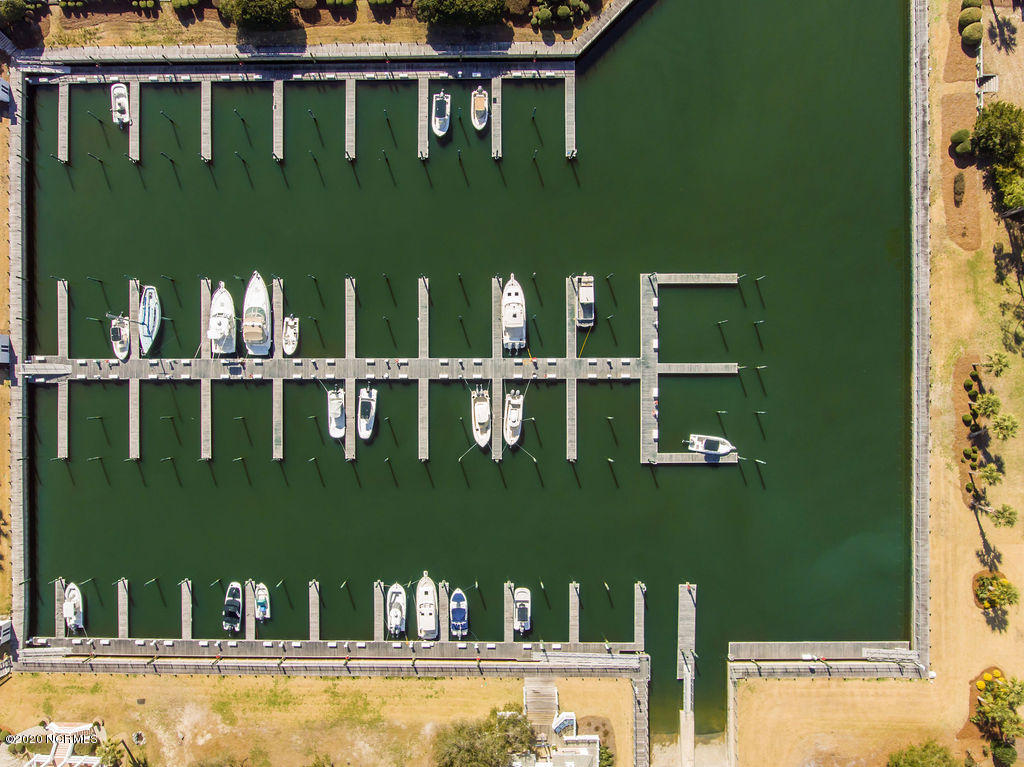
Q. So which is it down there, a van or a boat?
boat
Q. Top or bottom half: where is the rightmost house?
bottom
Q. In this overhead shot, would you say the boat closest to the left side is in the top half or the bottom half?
bottom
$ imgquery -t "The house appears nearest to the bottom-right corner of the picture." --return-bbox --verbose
[552,708,601,767]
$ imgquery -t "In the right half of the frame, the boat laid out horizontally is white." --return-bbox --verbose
[682,434,737,454]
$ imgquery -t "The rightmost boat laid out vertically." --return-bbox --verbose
[577,273,594,325]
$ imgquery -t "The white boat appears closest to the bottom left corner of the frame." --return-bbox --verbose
[62,583,85,637]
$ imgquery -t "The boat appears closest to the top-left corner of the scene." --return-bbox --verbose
[111,83,130,129]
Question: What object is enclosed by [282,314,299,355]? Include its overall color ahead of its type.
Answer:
white boat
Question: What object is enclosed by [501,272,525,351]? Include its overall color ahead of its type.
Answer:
white boat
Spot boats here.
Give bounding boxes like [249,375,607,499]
[62,583,85,637]
[110,310,133,360]
[387,583,406,635]
[682,434,737,454]
[450,588,468,644]
[111,83,130,129]
[432,86,450,137]
[504,391,523,446]
[282,314,299,355]
[255,583,270,622]
[577,273,594,325]
[104,286,160,354]
[223,582,243,640]
[501,272,525,351]
[471,88,488,130]
[327,382,346,438]
[514,588,531,634]
[416,572,439,639]
[194,281,238,354]
[471,383,491,447]
[242,270,273,354]
[357,381,377,439]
